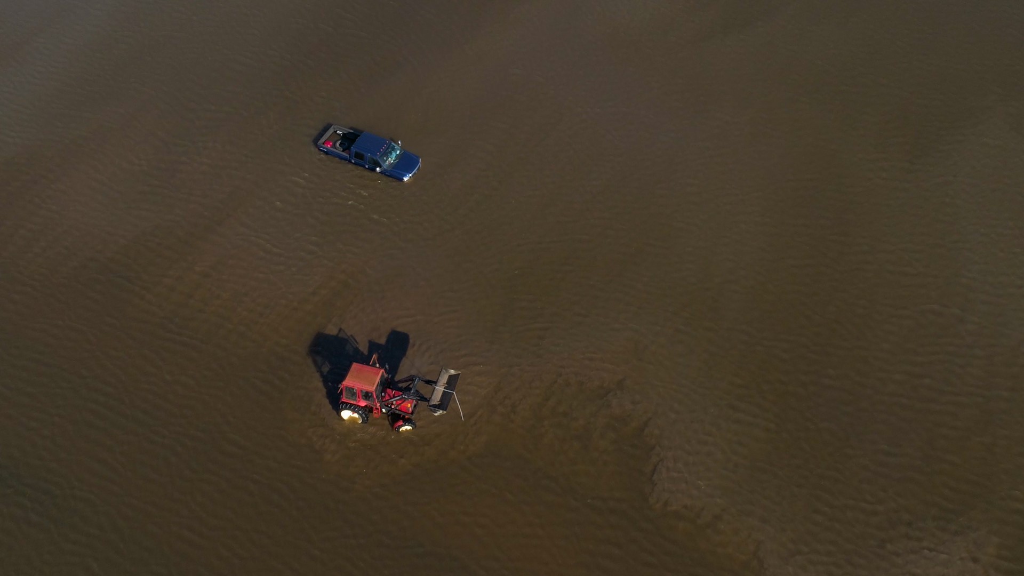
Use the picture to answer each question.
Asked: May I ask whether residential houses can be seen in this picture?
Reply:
No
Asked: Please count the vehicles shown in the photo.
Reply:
2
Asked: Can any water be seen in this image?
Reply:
Yes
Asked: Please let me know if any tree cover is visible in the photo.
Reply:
No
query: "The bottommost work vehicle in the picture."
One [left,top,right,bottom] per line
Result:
[334,354,460,431]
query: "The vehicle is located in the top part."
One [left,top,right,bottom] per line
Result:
[317,124,424,181]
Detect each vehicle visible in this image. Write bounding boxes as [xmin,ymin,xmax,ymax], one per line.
[334,354,460,431]
[317,124,424,181]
